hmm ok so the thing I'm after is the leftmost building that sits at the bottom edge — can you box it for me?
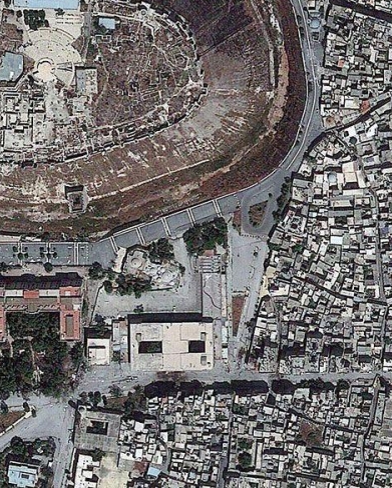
[8,460,40,487]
